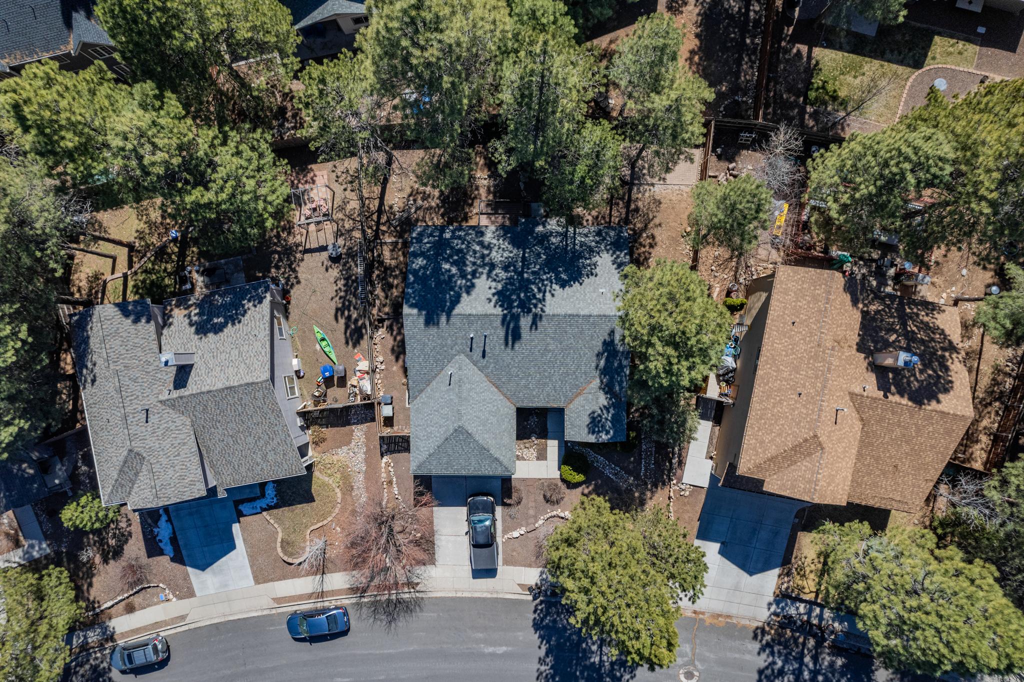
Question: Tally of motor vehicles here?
3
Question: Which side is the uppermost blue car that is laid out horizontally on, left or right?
left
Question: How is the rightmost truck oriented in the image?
from top to bottom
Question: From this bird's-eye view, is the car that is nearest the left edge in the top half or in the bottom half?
bottom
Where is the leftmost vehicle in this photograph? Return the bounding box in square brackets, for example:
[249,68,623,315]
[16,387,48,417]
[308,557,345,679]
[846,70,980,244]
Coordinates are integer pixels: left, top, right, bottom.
[108,637,170,677]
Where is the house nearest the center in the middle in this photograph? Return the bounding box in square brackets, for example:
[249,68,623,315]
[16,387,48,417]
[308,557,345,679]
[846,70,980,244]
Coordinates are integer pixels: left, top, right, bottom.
[402,218,634,475]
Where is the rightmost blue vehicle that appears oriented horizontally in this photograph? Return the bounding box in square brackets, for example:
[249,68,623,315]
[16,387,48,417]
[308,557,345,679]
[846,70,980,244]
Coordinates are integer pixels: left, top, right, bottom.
[286,609,352,645]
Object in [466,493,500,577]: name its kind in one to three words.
truck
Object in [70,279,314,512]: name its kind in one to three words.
house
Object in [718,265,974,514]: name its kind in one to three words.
house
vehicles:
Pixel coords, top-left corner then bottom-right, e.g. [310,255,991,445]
[466,493,500,577]
[108,637,170,677]
[286,609,352,645]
